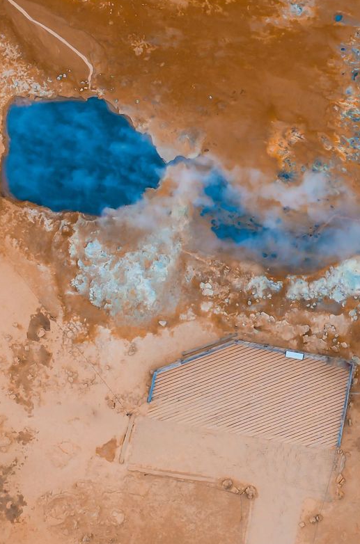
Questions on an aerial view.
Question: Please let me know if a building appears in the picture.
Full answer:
No, the scene contains no building.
